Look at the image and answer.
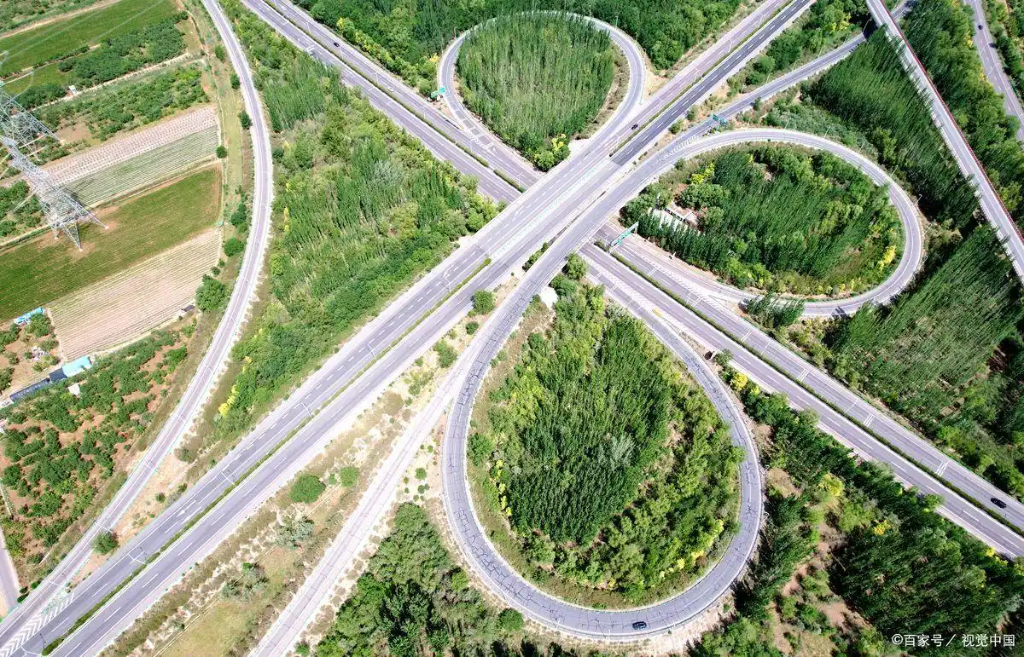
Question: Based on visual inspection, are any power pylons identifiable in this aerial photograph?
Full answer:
Yes, there is a power pylon in the image.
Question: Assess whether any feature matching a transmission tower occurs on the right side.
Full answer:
No, on the right side there is no transmission tower.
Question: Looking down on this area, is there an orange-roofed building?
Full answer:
No, no orange-roofed building can be seen from above.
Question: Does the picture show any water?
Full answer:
No, the scene doesn't show any water.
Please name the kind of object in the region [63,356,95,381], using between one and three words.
building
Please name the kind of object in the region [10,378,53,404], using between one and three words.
shed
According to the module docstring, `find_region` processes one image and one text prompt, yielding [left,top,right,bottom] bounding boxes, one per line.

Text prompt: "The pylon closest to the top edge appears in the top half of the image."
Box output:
[0,74,64,160]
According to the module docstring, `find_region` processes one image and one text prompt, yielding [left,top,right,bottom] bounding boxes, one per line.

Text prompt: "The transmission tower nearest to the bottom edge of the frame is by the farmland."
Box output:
[1,145,107,251]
